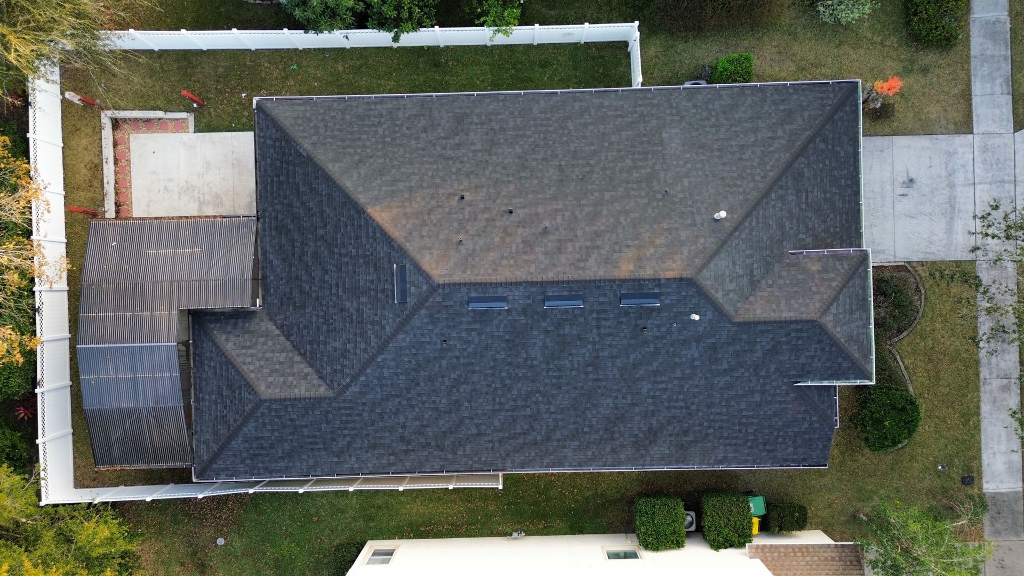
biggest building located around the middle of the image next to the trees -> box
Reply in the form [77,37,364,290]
[189,79,876,482]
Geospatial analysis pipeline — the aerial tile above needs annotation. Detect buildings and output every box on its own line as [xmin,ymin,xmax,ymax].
[189,79,876,482]
[349,529,862,576]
